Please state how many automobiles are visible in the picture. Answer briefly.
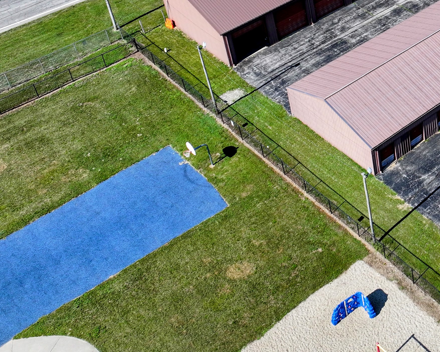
zero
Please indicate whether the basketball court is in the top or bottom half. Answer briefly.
bottom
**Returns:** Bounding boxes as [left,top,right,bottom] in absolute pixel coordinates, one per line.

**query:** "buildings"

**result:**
[285,1,440,175]
[163,0,356,68]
